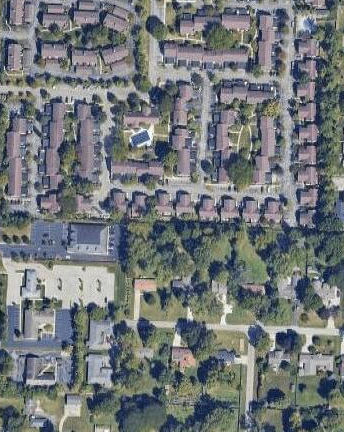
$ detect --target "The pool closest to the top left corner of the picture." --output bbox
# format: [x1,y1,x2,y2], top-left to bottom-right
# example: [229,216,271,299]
[129,128,151,147]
